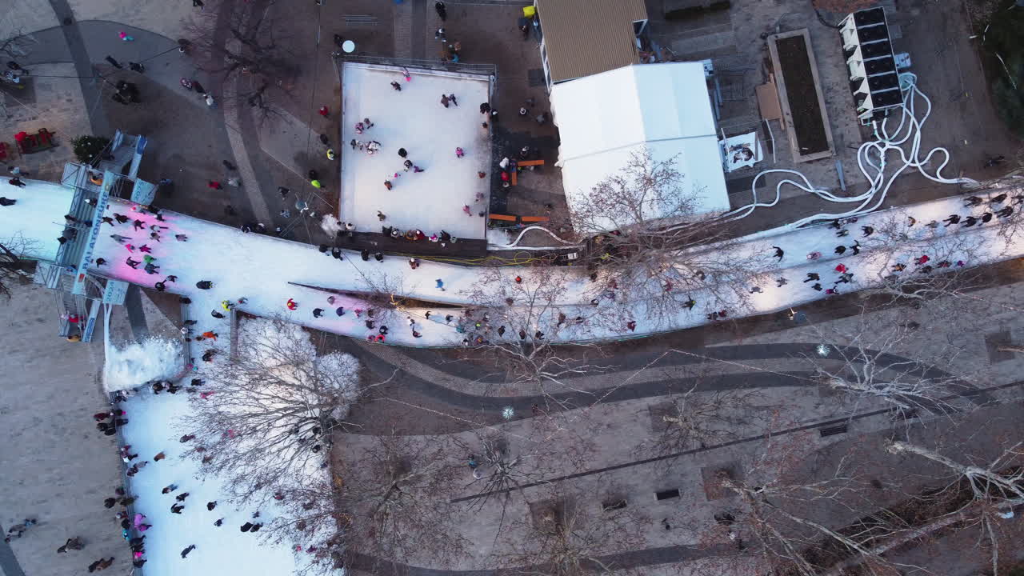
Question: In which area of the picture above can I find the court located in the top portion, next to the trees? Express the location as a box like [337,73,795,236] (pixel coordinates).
[339,63,489,240]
